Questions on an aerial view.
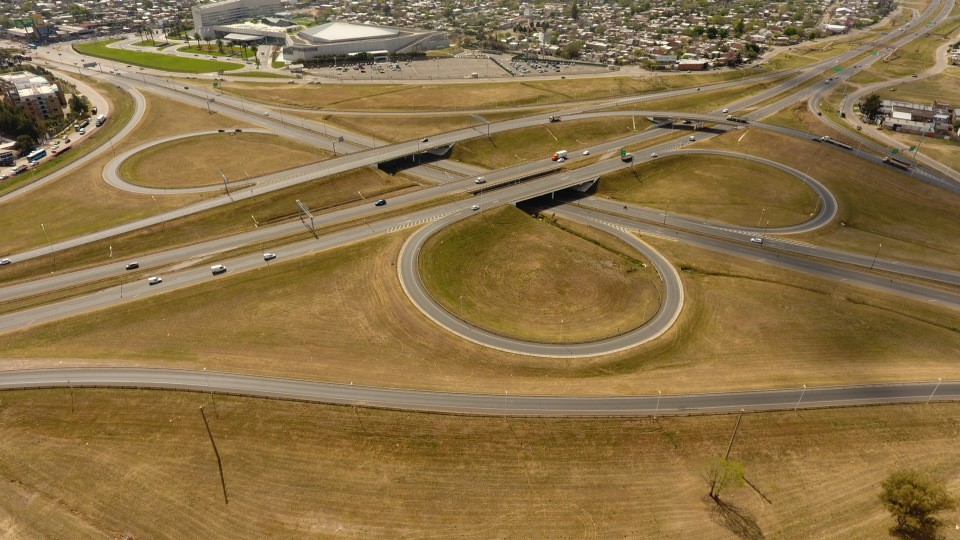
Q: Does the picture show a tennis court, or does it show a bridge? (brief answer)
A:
bridge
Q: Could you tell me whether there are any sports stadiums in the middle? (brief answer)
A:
No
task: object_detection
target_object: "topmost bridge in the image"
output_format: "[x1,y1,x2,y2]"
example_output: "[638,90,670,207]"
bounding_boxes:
[638,111,742,135]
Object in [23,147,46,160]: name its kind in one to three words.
vehicle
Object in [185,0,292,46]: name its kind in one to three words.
building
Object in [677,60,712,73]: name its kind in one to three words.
building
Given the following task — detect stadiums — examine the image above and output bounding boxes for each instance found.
[282,20,450,66]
